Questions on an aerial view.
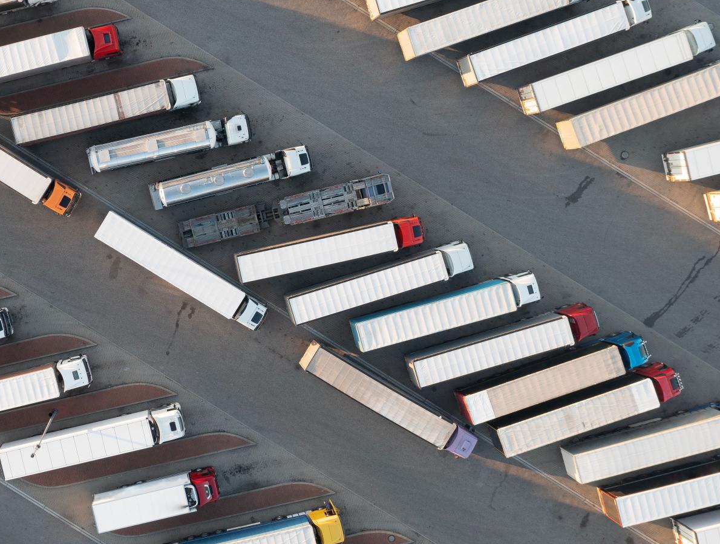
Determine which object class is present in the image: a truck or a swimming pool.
truck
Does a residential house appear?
No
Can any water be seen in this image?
No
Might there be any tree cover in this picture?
No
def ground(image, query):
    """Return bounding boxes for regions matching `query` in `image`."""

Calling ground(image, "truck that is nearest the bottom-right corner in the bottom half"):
[674,507,720,544]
